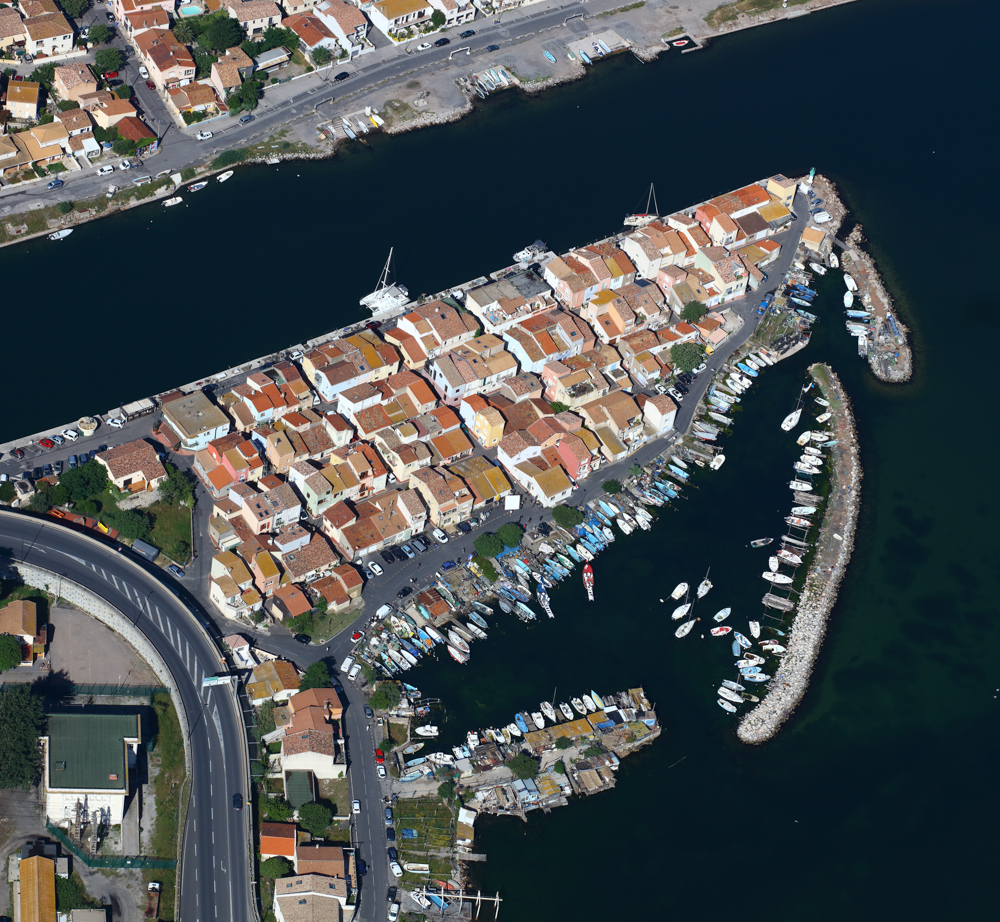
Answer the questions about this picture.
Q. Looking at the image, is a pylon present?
Yes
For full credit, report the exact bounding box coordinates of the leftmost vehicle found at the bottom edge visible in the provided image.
[146,881,160,915]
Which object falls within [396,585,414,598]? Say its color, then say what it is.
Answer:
black vehicle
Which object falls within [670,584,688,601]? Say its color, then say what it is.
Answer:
white boat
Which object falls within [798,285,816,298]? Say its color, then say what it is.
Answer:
blue boat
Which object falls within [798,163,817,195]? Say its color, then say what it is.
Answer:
white lighthouse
